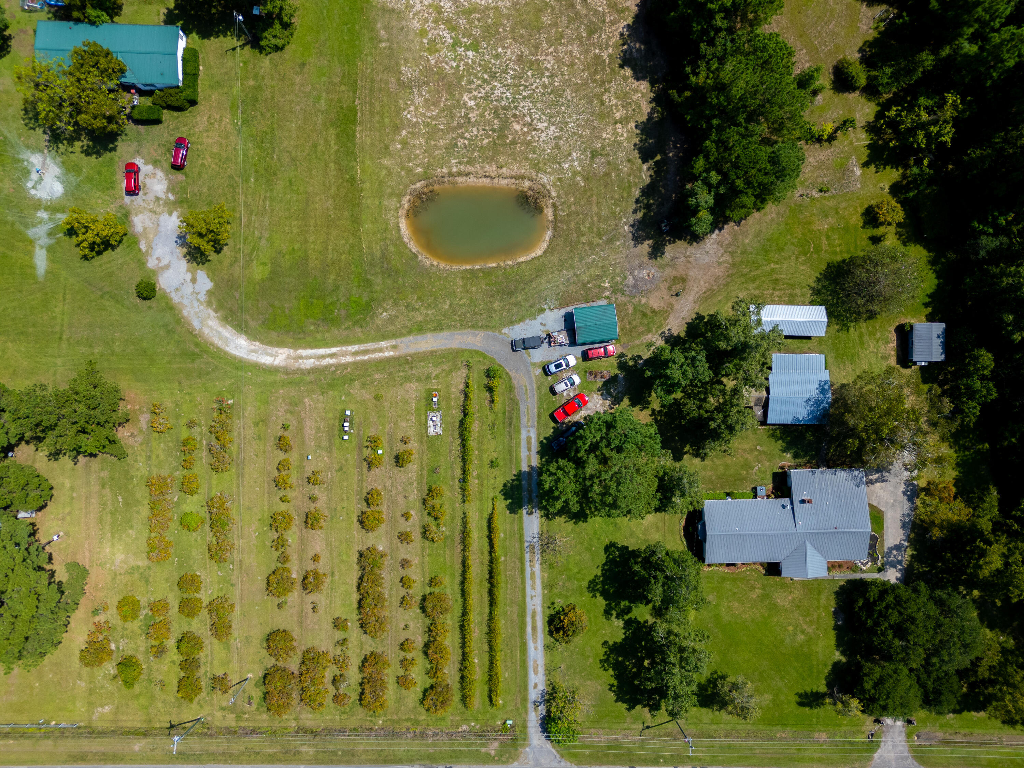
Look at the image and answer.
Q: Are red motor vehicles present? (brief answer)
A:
Yes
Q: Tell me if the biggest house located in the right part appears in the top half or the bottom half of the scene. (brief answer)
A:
bottom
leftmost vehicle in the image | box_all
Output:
[124,166,142,197]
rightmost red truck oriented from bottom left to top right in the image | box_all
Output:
[551,393,589,425]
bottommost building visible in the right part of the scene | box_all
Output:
[696,468,872,578]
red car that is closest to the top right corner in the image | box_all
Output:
[583,344,616,362]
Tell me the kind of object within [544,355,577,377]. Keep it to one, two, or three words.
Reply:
car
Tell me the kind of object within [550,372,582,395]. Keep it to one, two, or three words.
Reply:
car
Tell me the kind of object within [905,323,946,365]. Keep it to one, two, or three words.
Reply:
shed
